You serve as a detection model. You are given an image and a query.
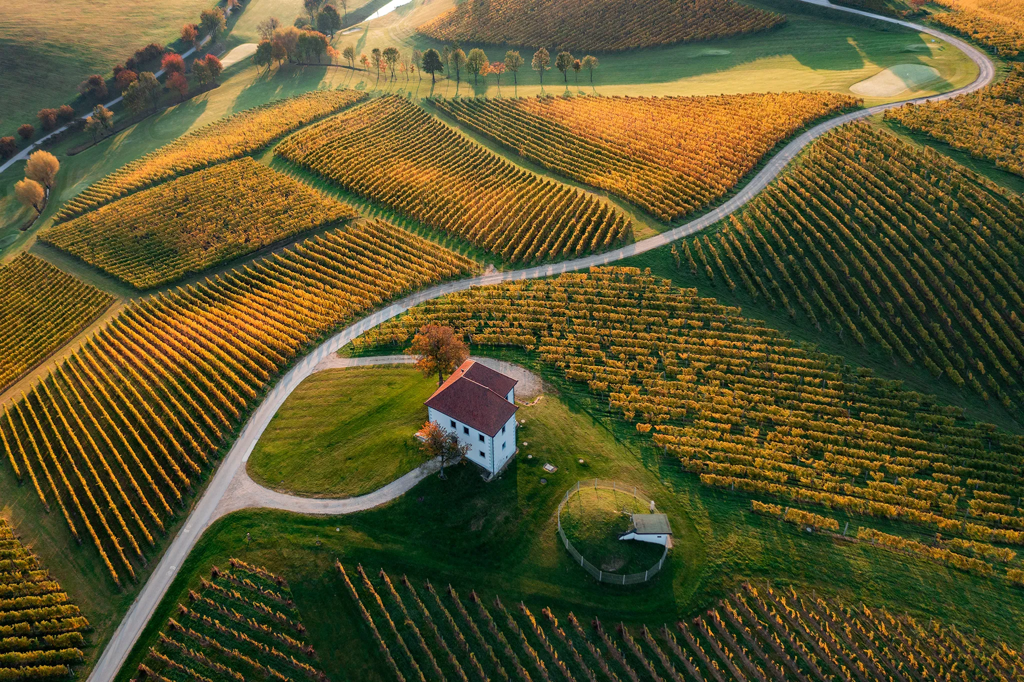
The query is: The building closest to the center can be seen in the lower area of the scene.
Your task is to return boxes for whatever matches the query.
[422,358,524,478]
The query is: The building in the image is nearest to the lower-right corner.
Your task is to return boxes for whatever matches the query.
[620,514,671,543]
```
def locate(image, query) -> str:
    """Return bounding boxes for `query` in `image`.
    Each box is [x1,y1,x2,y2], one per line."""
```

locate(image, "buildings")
[620,514,671,543]
[422,358,524,478]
